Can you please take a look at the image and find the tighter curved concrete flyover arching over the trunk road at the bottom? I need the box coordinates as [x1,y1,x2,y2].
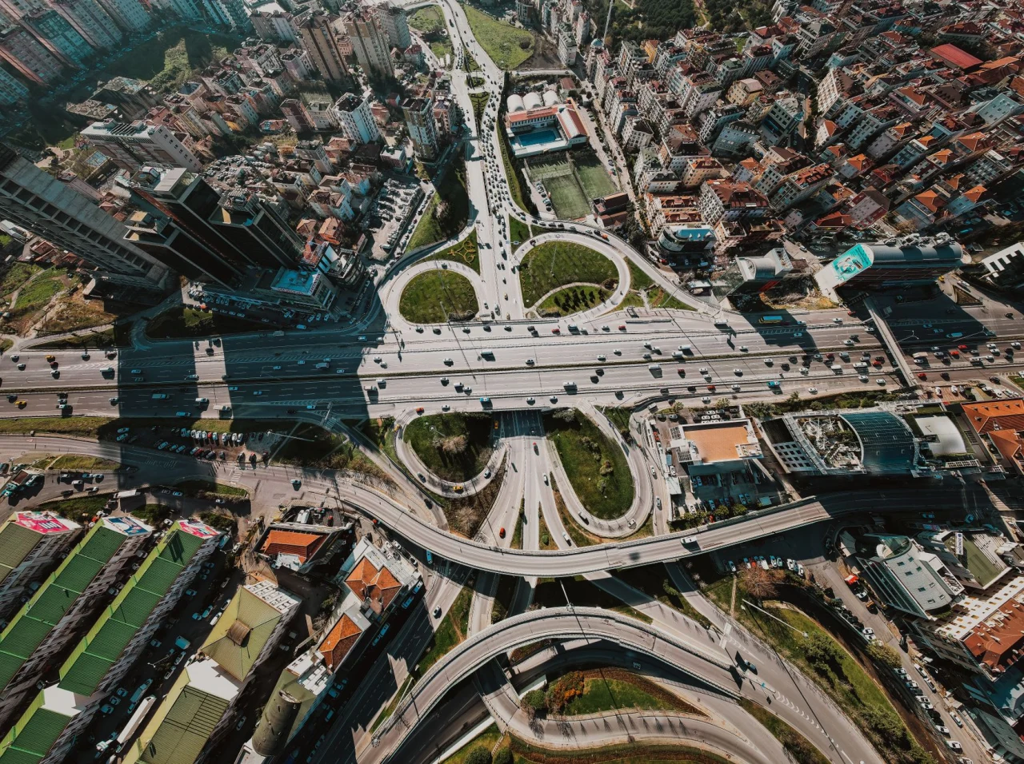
[352,602,766,764]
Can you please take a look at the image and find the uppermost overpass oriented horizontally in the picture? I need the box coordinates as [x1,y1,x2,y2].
[334,478,1024,576]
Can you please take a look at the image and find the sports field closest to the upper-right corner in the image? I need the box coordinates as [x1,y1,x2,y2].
[570,150,616,201]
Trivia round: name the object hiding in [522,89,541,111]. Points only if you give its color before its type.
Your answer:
white tent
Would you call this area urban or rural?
urban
